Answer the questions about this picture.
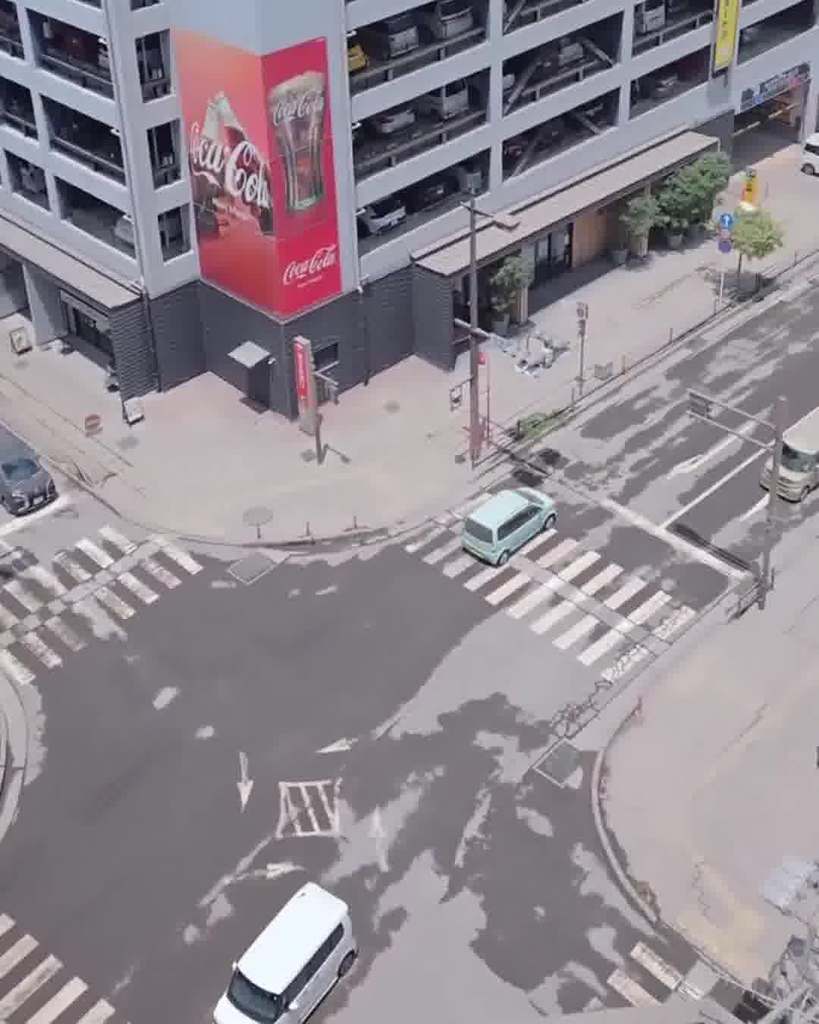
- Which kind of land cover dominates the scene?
paved ground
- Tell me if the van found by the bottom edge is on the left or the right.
left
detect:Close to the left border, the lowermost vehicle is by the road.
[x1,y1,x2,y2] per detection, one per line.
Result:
[0,419,54,509]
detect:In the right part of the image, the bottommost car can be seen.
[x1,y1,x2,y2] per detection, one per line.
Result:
[462,484,557,564]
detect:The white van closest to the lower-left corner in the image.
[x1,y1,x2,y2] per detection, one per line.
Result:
[218,889,353,1024]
